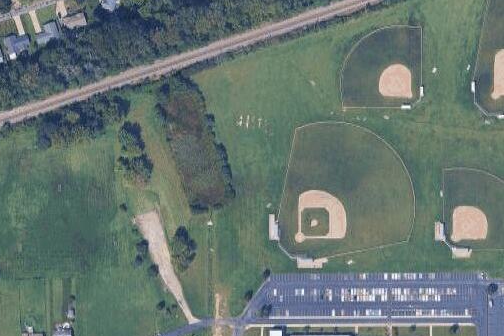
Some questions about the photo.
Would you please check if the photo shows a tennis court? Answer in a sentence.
No, the frame has no tennis court in it.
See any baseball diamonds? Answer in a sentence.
Yes, looking at the shot, I can spot a baseball diamond.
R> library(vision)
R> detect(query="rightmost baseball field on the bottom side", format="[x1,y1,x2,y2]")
[442,166,504,251]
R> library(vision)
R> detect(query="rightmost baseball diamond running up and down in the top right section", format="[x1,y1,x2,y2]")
[474,0,504,114]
